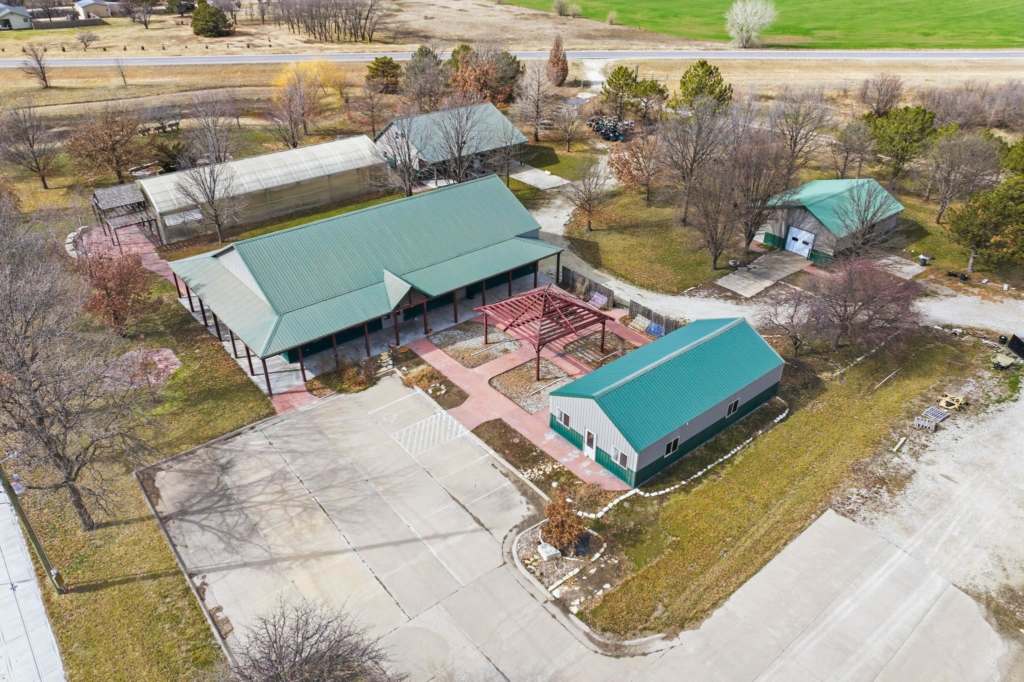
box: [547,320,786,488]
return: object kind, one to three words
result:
building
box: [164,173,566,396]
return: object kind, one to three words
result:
building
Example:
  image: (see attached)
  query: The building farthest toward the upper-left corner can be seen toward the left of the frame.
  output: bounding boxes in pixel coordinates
[0,4,41,32]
